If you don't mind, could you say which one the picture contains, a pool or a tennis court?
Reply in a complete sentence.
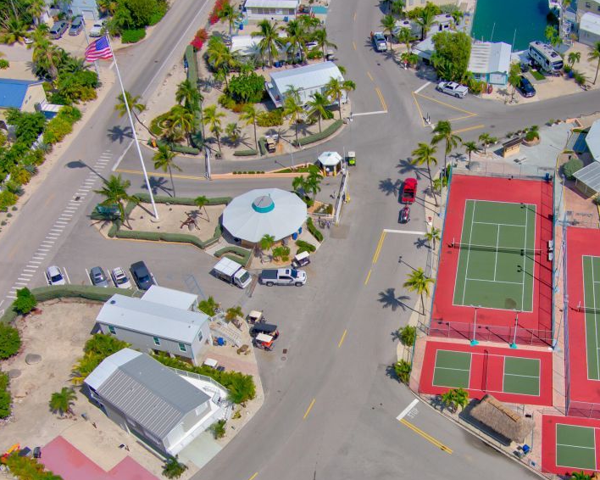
Looking from above, you can make out a tennis court.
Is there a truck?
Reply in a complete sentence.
Yes, a truck is visible in the scene.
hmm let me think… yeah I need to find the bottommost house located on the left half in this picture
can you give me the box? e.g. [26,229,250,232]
[84,346,245,464]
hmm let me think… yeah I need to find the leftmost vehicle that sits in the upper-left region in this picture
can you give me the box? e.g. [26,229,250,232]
[19,34,38,48]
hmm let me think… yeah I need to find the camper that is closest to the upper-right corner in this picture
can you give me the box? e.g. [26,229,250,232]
[526,42,568,81]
